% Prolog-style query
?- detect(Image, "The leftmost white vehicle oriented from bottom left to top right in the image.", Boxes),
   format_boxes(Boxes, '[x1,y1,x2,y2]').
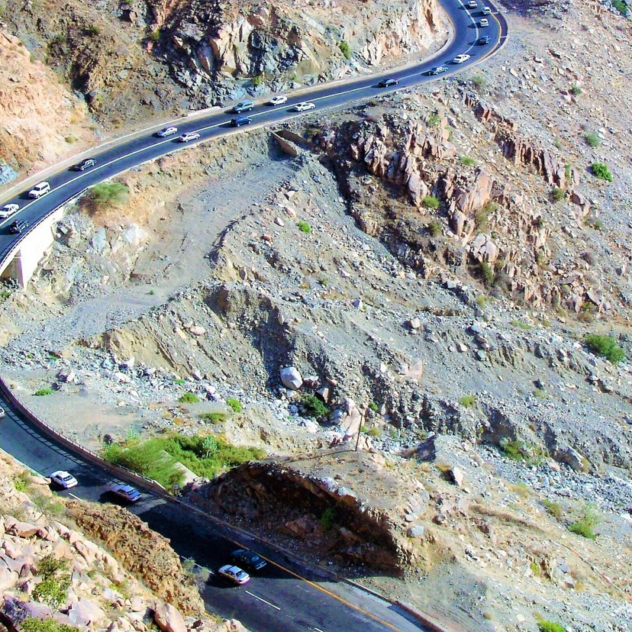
[0,204,20,222]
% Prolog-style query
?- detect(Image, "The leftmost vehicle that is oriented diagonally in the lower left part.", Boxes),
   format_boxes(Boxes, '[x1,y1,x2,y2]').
[48,470,80,492]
